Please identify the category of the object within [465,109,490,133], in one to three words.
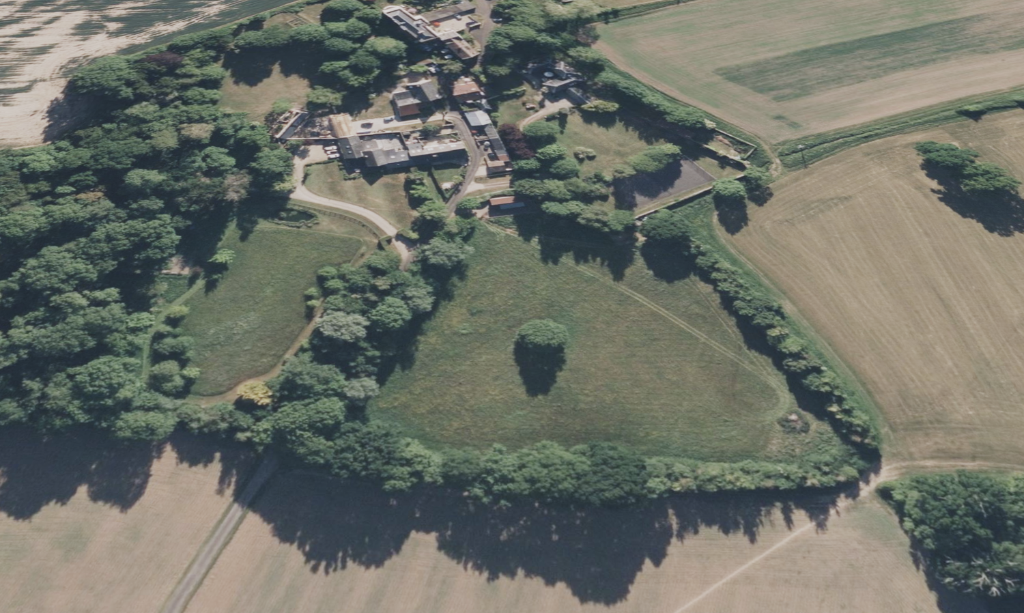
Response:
barn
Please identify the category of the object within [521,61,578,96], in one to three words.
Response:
house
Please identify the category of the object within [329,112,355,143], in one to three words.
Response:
barn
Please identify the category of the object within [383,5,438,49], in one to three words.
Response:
house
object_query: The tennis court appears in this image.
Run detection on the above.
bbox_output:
[615,159,713,212]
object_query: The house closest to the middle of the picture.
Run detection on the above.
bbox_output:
[489,194,525,213]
